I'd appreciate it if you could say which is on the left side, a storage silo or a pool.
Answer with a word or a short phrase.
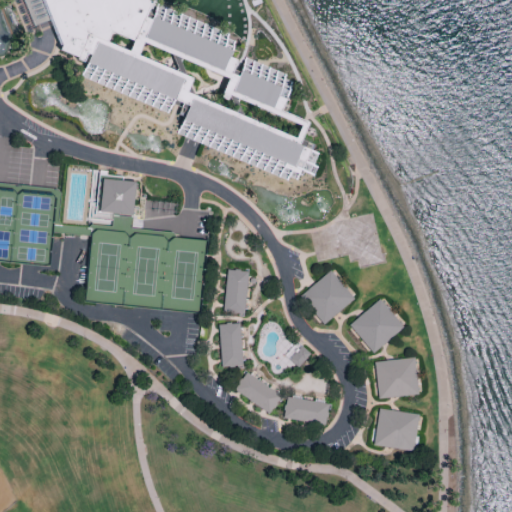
pool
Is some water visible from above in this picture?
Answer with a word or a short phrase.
Yes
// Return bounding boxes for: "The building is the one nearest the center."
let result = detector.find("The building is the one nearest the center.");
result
[224,268,251,316]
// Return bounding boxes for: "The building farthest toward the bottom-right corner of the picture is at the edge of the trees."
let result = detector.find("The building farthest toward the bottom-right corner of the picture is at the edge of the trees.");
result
[372,409,424,450]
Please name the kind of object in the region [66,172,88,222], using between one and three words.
swimming pool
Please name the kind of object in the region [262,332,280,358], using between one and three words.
swimming pool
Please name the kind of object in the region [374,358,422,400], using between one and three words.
house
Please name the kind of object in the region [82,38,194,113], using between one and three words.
building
